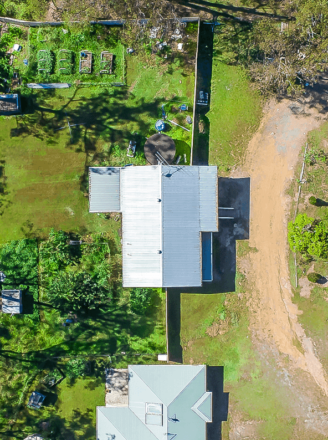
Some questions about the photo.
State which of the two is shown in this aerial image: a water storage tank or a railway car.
water storage tank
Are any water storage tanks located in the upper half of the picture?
Yes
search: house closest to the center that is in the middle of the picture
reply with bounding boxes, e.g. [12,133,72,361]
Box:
[87,159,228,287]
